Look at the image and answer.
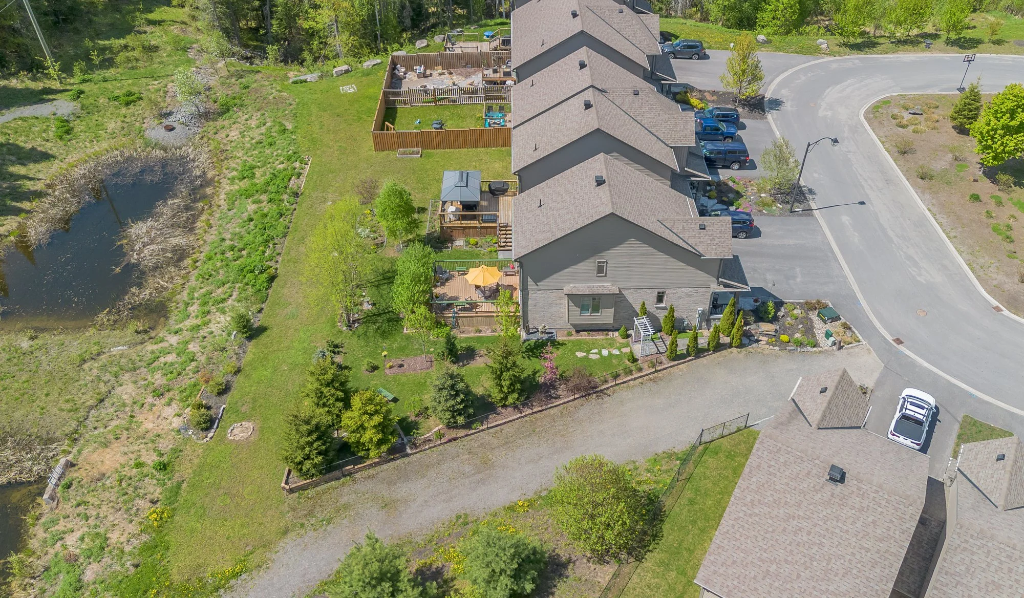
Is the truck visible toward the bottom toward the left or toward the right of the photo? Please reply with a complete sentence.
The truck visible toward the bottom sits on the right side.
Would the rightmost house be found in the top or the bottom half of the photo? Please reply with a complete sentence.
It is in the bottom half that the rightmost house appears.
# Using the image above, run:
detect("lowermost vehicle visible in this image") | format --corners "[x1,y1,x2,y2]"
[892,380,944,451]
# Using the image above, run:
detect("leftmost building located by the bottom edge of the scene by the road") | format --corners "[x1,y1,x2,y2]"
[690,367,931,598]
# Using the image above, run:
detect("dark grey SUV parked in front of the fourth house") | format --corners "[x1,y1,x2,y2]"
[661,40,704,60]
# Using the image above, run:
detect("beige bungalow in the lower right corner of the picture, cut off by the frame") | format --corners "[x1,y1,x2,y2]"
[886,436,1024,598]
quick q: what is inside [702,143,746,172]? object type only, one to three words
truck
